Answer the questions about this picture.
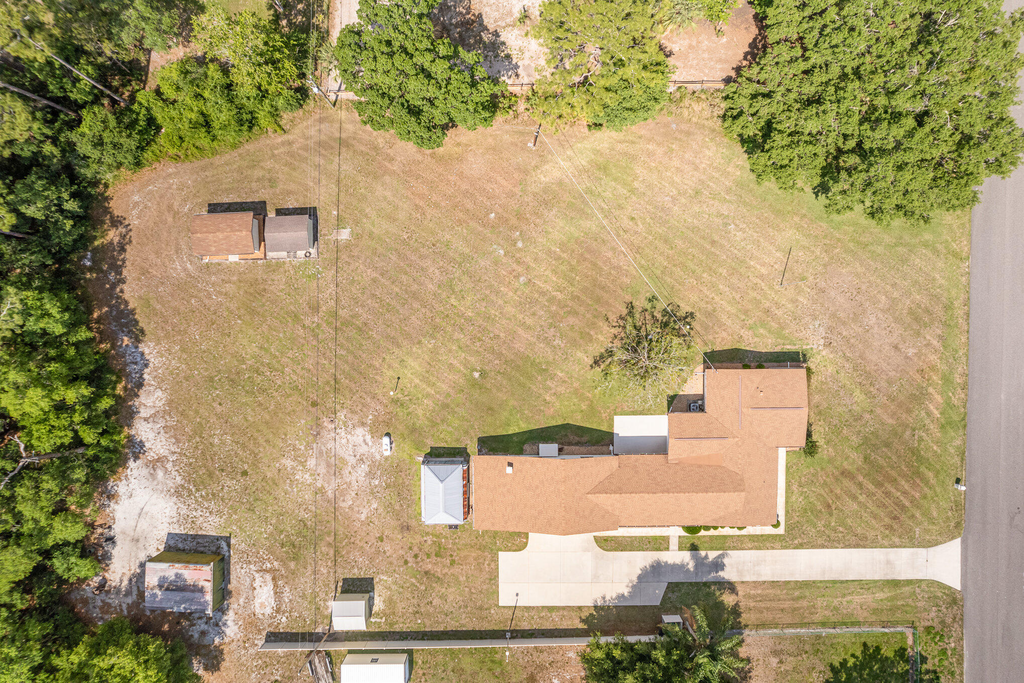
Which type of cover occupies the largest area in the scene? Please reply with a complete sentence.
Most of the picture is covered by grass.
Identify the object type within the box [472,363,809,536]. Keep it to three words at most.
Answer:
house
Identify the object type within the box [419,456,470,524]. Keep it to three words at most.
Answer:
shed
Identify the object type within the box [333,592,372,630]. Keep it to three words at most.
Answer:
shed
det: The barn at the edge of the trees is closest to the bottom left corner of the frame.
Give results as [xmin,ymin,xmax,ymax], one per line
[145,551,226,617]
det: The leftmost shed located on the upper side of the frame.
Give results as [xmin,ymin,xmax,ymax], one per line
[191,212,260,257]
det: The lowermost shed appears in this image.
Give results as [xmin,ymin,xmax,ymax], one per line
[341,654,409,683]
